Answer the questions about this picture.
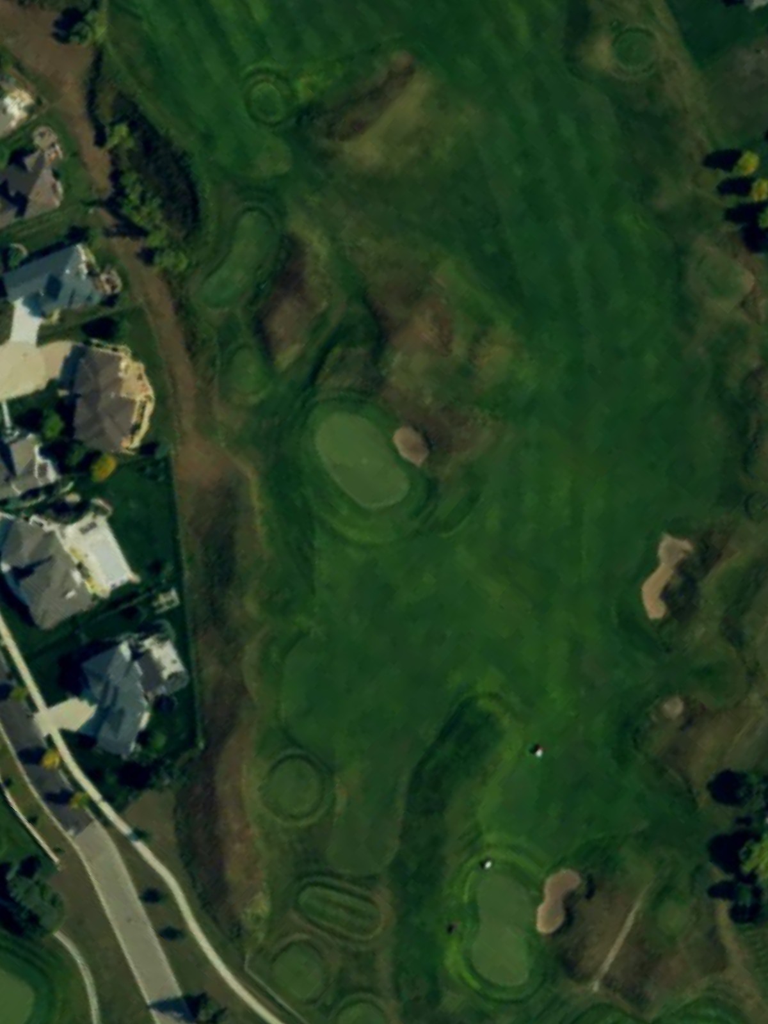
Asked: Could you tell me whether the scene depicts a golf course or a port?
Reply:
golf course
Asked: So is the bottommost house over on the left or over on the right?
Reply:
left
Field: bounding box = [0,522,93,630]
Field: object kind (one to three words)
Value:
house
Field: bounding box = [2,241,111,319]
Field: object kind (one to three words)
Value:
house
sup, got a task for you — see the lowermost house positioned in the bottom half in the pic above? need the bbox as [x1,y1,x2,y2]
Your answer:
[87,639,150,753]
